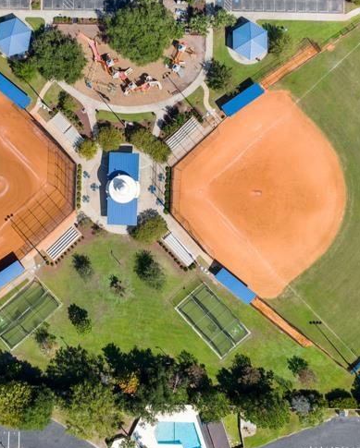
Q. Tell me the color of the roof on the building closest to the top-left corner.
blue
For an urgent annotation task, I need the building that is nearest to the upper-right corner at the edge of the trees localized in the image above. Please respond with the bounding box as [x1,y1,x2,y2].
[232,21,269,62]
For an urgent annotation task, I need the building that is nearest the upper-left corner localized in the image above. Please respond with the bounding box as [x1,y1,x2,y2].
[0,16,32,57]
